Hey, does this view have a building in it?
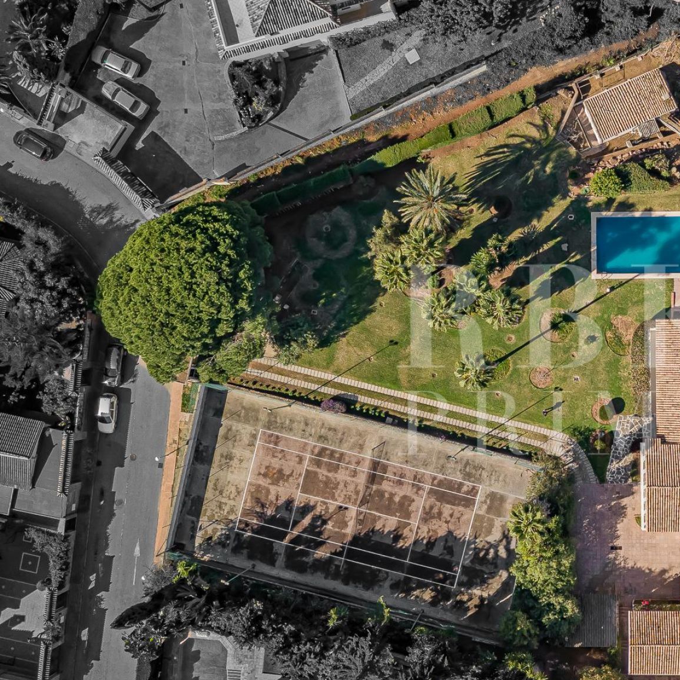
Yes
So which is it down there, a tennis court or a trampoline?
tennis court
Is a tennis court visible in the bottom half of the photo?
Yes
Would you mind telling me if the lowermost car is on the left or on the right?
left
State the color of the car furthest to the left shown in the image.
black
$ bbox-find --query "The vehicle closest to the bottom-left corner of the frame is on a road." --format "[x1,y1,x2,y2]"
[96,393,120,432]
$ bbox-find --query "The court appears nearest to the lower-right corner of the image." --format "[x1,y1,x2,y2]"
[178,389,551,636]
